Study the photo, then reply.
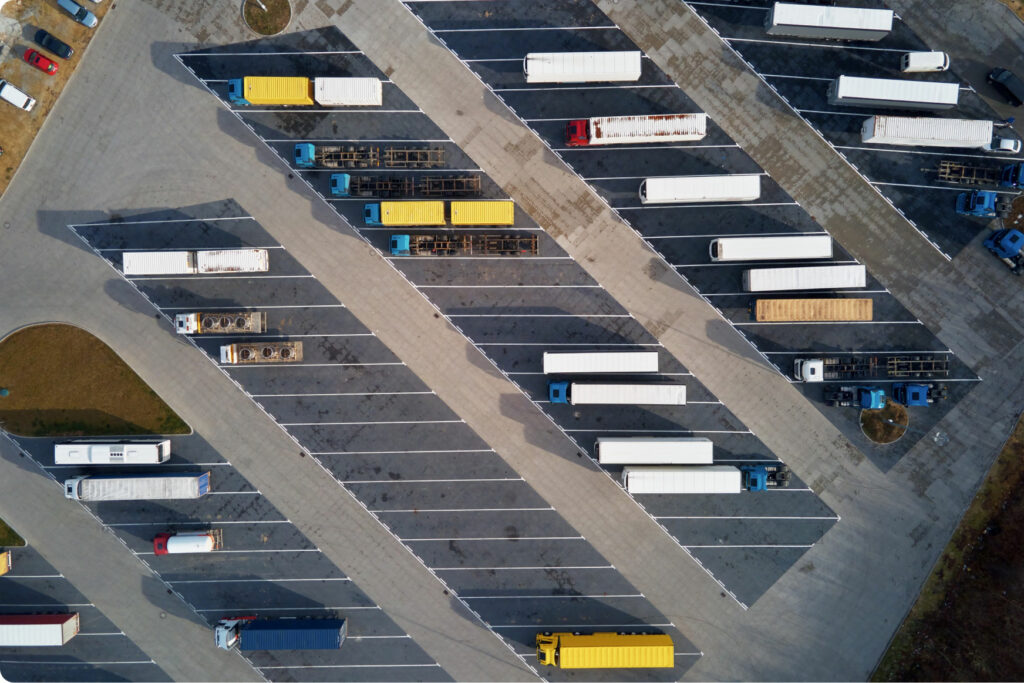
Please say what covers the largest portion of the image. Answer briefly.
paved ground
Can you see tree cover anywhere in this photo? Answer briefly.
No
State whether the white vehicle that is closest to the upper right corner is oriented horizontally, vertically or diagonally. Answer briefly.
horizontally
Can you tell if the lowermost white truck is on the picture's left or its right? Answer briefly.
left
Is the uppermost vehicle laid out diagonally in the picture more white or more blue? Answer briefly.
blue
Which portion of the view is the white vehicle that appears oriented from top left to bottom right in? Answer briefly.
top left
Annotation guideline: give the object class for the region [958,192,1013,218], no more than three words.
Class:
truck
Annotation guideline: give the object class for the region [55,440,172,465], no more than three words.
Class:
bus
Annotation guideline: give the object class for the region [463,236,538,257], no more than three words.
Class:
trailer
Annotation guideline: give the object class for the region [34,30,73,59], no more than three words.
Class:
car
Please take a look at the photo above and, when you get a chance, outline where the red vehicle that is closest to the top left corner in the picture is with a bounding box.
[22,49,59,76]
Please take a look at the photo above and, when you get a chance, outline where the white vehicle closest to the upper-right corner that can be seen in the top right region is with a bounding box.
[902,52,948,74]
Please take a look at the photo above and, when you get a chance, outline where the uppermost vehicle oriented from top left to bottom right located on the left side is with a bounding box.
[53,0,96,29]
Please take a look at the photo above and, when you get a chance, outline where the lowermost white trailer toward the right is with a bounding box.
[621,464,741,492]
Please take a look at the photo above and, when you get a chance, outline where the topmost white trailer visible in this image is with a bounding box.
[765,2,893,43]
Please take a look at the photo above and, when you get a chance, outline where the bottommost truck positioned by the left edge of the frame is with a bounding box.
[0,610,81,646]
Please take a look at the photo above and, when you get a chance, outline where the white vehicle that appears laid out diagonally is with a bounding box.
[0,80,36,113]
